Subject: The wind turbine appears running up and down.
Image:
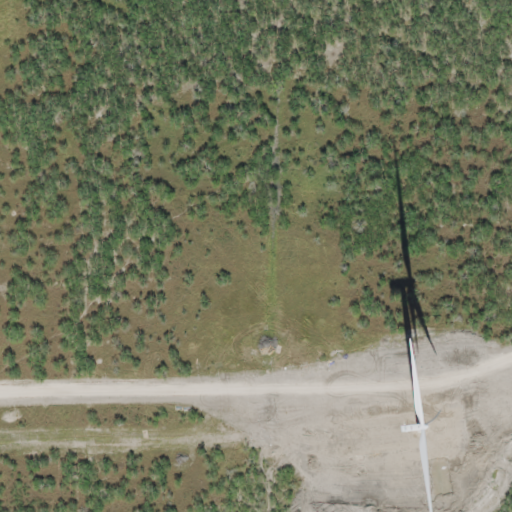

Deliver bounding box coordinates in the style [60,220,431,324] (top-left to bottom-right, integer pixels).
[401,345,442,512]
